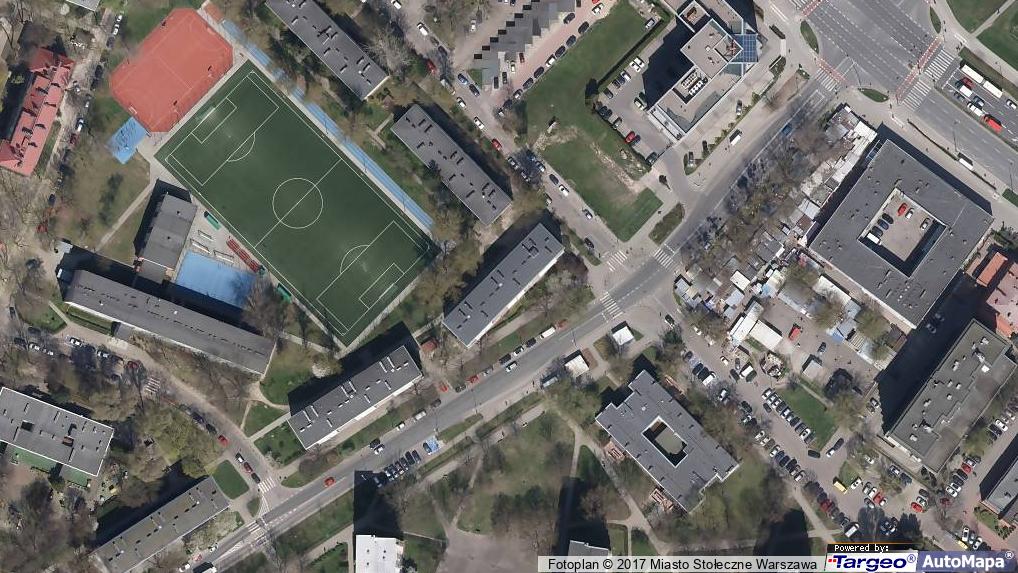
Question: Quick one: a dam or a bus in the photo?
bus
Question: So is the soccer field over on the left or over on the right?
left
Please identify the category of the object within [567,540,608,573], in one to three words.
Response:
building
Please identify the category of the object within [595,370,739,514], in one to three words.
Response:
house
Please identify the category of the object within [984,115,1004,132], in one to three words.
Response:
vehicle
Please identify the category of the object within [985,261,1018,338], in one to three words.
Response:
building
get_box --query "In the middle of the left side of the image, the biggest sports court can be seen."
[172,250,256,309]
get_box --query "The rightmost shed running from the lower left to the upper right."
[976,252,1008,287]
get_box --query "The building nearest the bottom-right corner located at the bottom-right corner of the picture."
[985,459,1018,530]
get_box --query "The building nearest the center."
[441,223,565,350]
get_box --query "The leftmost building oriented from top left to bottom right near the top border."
[265,0,389,104]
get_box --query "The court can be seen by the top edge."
[110,8,234,132]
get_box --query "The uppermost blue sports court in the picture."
[110,116,149,163]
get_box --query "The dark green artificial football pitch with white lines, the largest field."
[154,60,441,346]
